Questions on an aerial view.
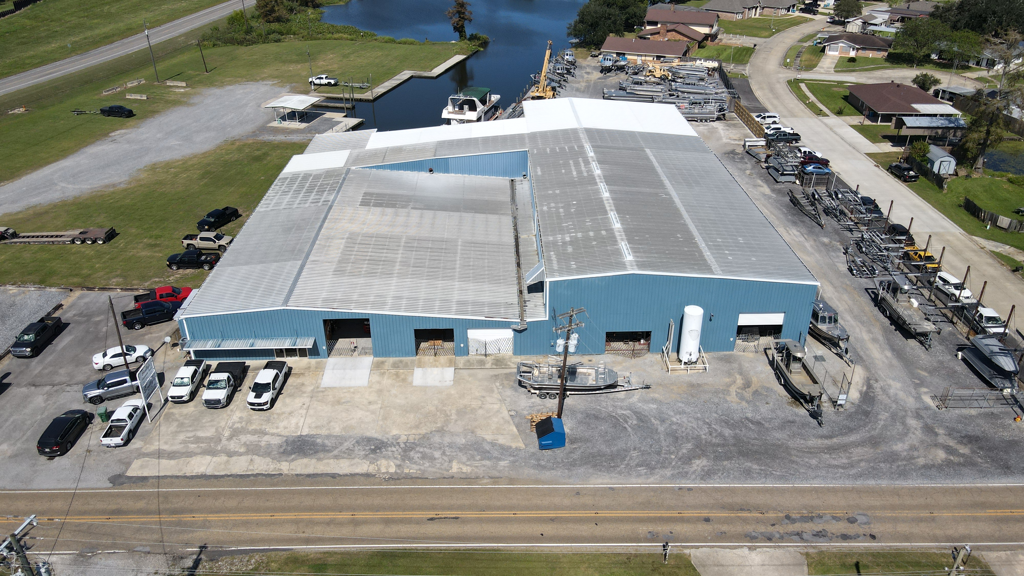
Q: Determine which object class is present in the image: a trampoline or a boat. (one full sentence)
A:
It is a boat that can be seen here.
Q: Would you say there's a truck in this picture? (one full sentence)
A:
Yes, there is a truck in the image.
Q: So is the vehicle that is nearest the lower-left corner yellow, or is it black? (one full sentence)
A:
In this view, the vehicle that is nearest the lower-left corner is black.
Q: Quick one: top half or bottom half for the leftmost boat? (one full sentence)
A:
The top half of the photo is where the leftmost boat is.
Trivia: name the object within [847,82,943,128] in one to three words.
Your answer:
house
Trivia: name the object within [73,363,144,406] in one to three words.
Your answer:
truck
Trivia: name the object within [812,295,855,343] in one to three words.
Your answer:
boat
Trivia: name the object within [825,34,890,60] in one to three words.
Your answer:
house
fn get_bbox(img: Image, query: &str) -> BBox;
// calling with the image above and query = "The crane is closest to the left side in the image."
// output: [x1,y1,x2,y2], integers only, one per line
[523,40,563,100]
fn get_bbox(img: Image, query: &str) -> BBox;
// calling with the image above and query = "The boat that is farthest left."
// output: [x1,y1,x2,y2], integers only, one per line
[442,85,504,124]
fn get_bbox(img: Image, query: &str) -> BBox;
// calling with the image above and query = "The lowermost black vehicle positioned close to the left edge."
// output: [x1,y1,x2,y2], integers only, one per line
[30,407,91,459]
